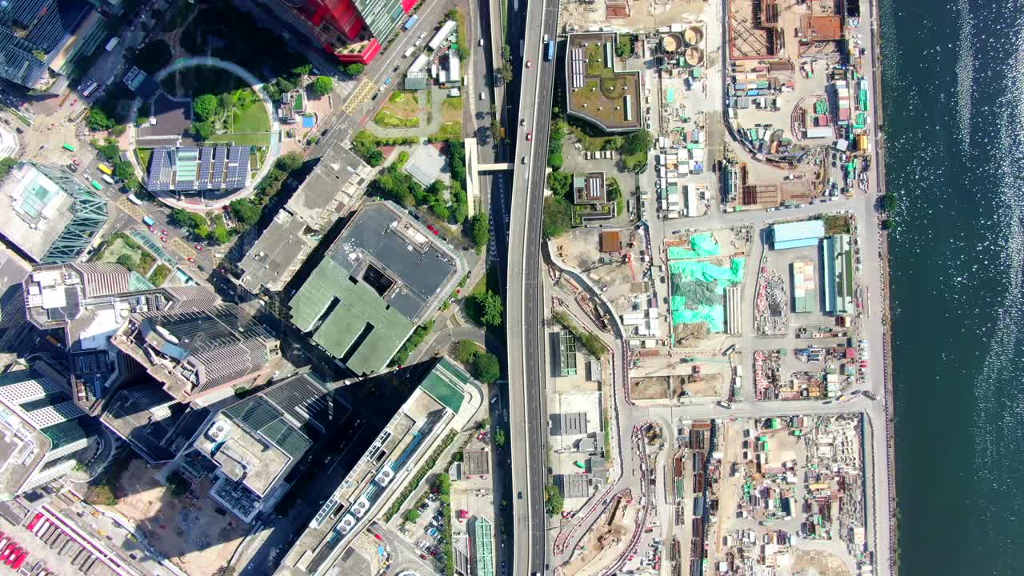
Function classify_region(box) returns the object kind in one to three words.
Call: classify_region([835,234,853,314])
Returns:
shed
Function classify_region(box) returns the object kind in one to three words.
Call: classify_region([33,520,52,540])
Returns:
vehicle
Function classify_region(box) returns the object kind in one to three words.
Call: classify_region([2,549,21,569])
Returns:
vehicle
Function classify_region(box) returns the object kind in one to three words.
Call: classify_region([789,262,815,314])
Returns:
building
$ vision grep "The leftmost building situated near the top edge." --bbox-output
[0,0,120,99]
